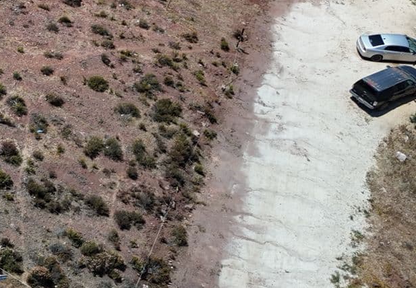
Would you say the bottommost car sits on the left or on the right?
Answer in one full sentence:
The bottommost car is on the right side of the image.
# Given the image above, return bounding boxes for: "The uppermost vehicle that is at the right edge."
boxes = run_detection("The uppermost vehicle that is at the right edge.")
[354,32,416,65]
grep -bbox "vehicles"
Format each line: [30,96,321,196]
[354,32,416,65]
[357,60,416,110]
